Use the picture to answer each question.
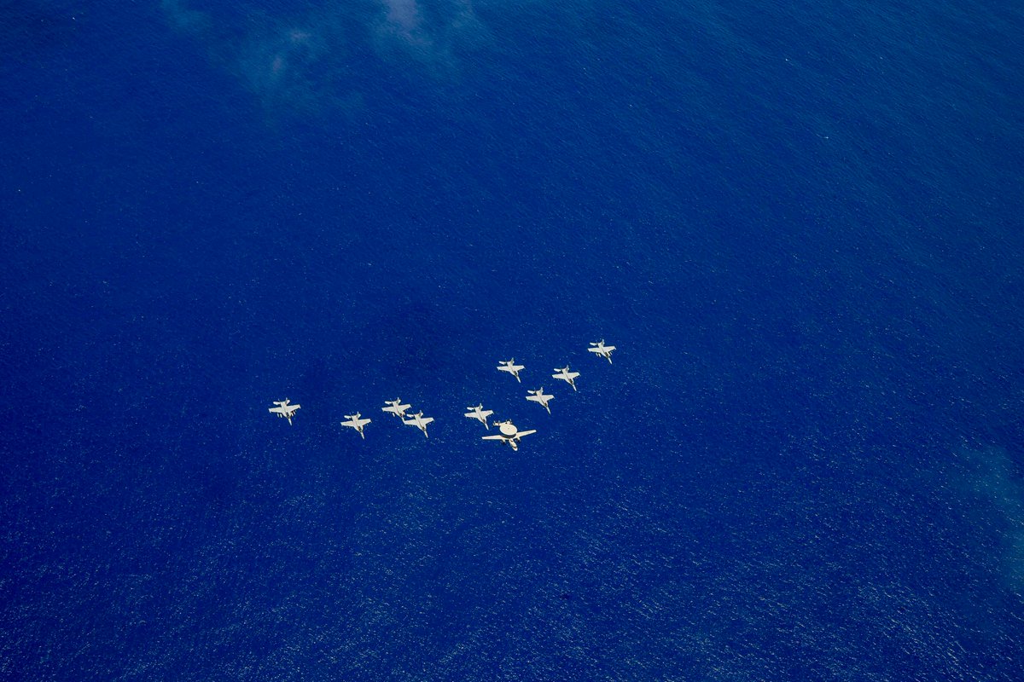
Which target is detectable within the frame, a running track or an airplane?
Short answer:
airplane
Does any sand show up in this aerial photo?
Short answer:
No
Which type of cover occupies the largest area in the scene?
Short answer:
water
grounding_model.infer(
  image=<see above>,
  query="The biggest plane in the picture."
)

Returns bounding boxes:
[482,419,536,452]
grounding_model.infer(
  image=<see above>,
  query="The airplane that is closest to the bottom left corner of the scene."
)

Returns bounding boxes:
[269,397,300,425]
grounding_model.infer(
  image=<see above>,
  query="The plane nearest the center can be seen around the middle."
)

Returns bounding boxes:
[497,357,525,383]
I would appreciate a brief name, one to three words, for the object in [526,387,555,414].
airplane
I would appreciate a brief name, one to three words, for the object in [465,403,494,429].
airplane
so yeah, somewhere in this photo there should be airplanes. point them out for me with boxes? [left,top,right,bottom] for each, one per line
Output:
[269,397,300,425]
[382,397,412,424]
[404,410,434,438]
[588,339,616,364]
[497,357,525,383]
[552,365,581,391]
[526,387,555,414]
[482,419,536,452]
[341,412,372,439]
[465,403,494,429]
